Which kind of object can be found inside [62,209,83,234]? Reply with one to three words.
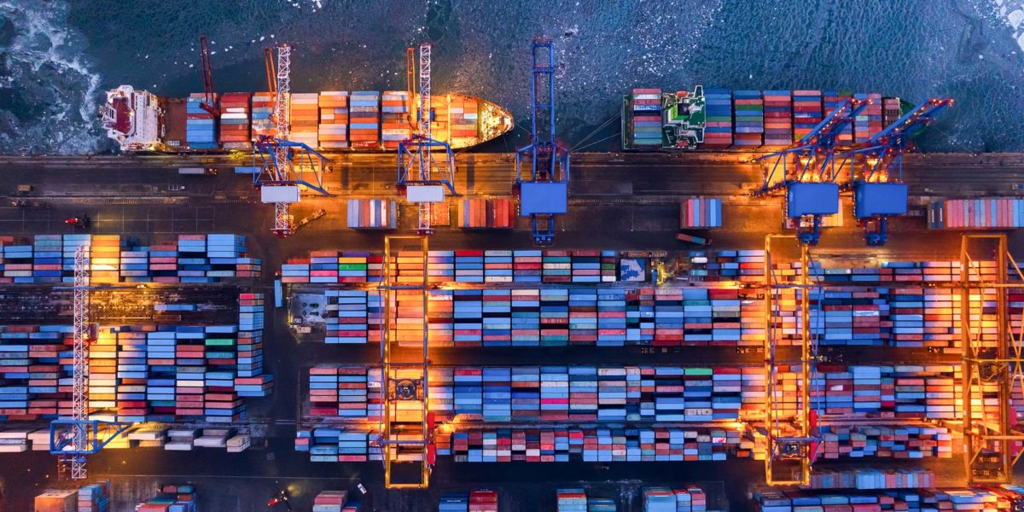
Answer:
work vehicle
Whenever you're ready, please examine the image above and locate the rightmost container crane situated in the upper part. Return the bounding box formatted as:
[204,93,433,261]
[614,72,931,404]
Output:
[811,98,954,254]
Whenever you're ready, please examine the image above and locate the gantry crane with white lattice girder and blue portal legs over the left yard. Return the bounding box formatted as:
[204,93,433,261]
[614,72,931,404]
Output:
[48,245,144,478]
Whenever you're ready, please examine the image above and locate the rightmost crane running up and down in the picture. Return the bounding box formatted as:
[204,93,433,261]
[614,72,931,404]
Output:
[929,236,1024,487]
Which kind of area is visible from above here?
port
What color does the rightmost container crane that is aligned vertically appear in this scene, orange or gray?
orange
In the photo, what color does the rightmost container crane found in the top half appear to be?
blue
